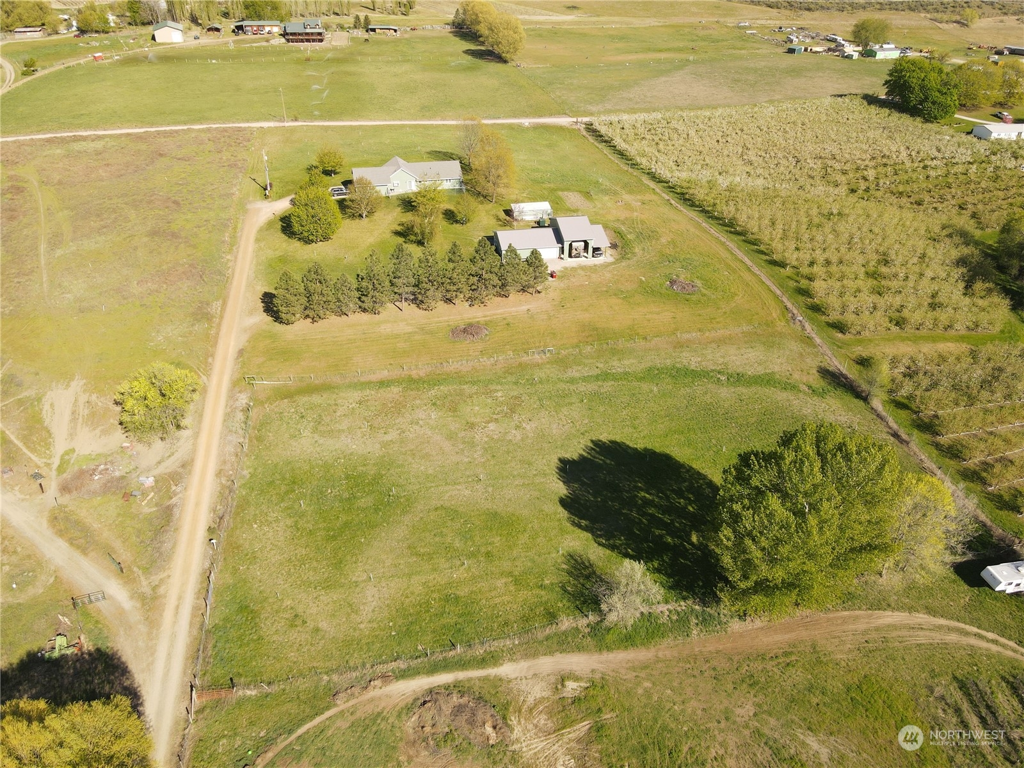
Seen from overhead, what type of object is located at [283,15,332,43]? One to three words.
house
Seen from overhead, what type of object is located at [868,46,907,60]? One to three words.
house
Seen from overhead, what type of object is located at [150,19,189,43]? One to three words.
barn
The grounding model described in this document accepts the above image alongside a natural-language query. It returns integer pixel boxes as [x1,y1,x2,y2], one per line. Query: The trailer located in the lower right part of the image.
[984,561,1024,597]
